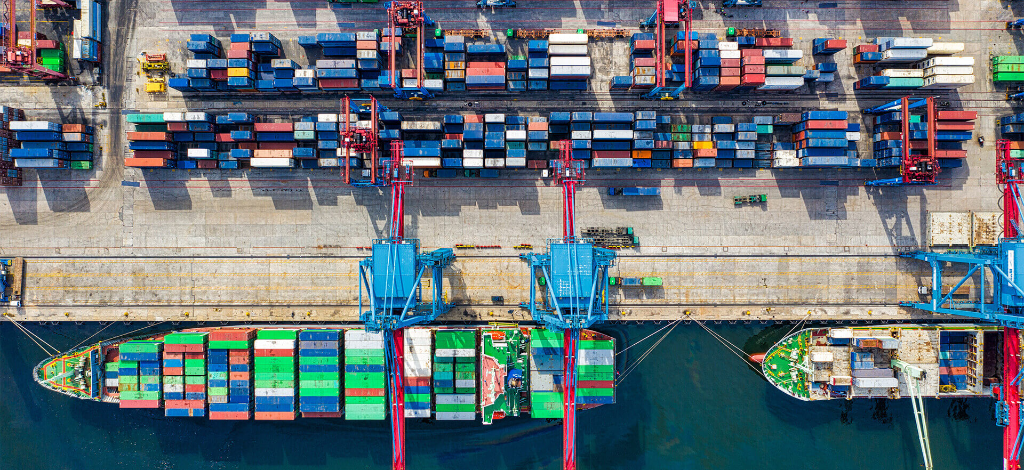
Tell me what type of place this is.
port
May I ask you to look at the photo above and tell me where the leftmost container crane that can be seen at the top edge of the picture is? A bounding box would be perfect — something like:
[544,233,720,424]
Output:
[4,0,82,80]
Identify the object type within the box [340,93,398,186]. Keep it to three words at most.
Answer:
container crane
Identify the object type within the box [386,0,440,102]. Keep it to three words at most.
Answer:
container crane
